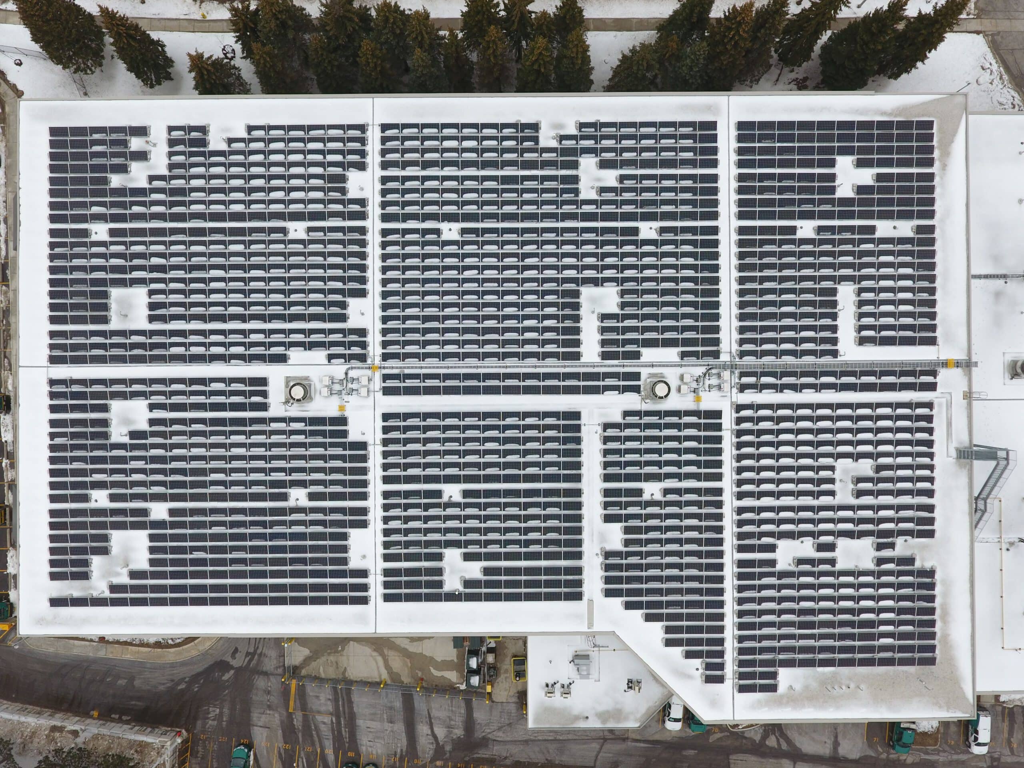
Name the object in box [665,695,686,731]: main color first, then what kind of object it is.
white truck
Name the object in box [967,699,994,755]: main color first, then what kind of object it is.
white truck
